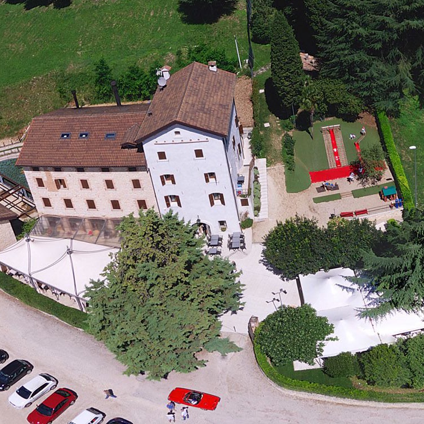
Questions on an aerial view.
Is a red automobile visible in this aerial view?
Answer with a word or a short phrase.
Yes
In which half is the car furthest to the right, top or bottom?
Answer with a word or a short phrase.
bottom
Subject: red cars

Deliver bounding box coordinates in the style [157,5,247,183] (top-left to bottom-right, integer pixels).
[25,389,81,424]
[170,387,223,417]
